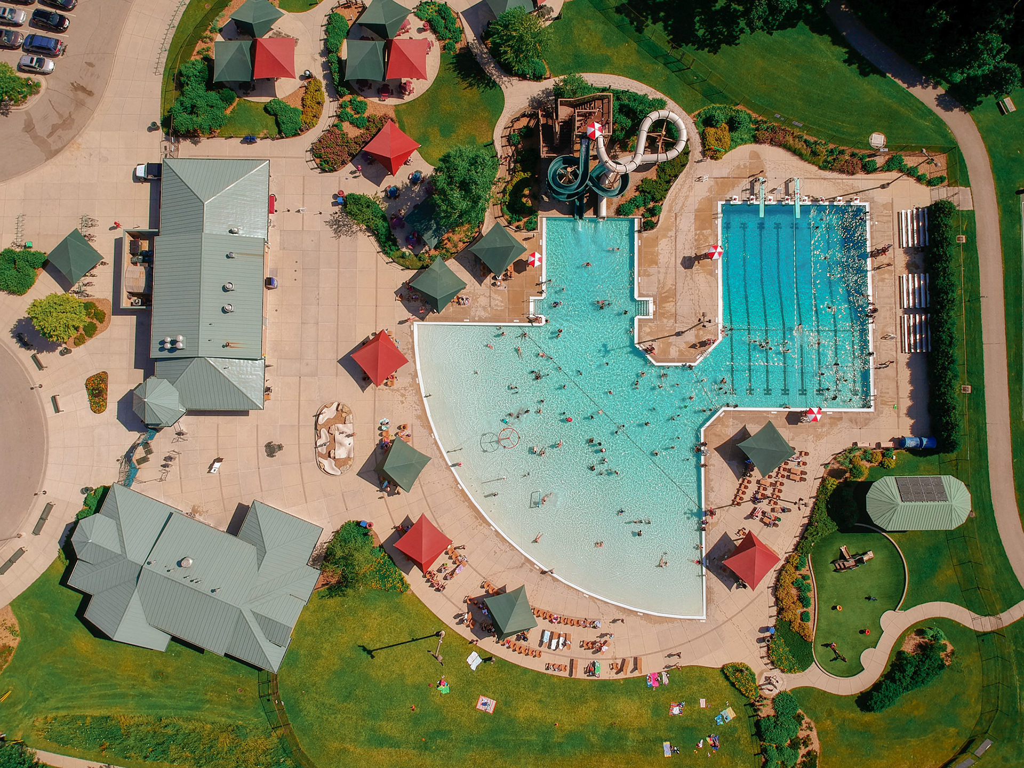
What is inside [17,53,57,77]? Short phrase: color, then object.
gray car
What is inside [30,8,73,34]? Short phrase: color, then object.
black car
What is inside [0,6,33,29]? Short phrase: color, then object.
gray car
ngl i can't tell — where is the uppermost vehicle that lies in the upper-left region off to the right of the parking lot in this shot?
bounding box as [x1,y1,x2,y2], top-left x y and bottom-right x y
[132,162,163,181]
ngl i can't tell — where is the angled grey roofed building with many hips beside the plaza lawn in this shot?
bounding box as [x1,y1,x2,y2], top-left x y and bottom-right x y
[67,483,323,674]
